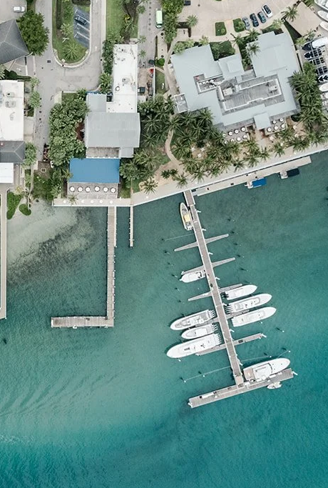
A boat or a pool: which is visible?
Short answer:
boat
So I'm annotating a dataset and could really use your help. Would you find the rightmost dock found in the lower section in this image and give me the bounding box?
[173,191,296,406]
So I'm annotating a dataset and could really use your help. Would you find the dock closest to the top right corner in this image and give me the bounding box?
[193,157,311,197]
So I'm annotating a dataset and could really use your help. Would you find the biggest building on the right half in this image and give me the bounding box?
[167,31,301,131]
